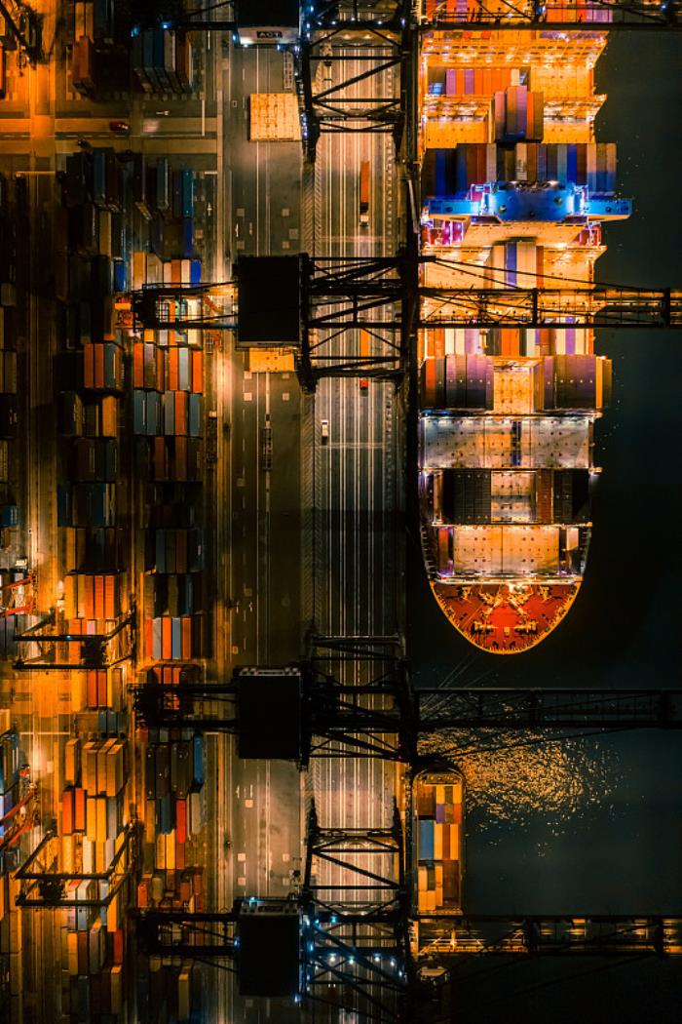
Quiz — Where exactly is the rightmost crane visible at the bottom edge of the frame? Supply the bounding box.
[116,798,682,1024]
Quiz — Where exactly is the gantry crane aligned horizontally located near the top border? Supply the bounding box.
[116,0,682,159]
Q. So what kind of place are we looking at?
port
